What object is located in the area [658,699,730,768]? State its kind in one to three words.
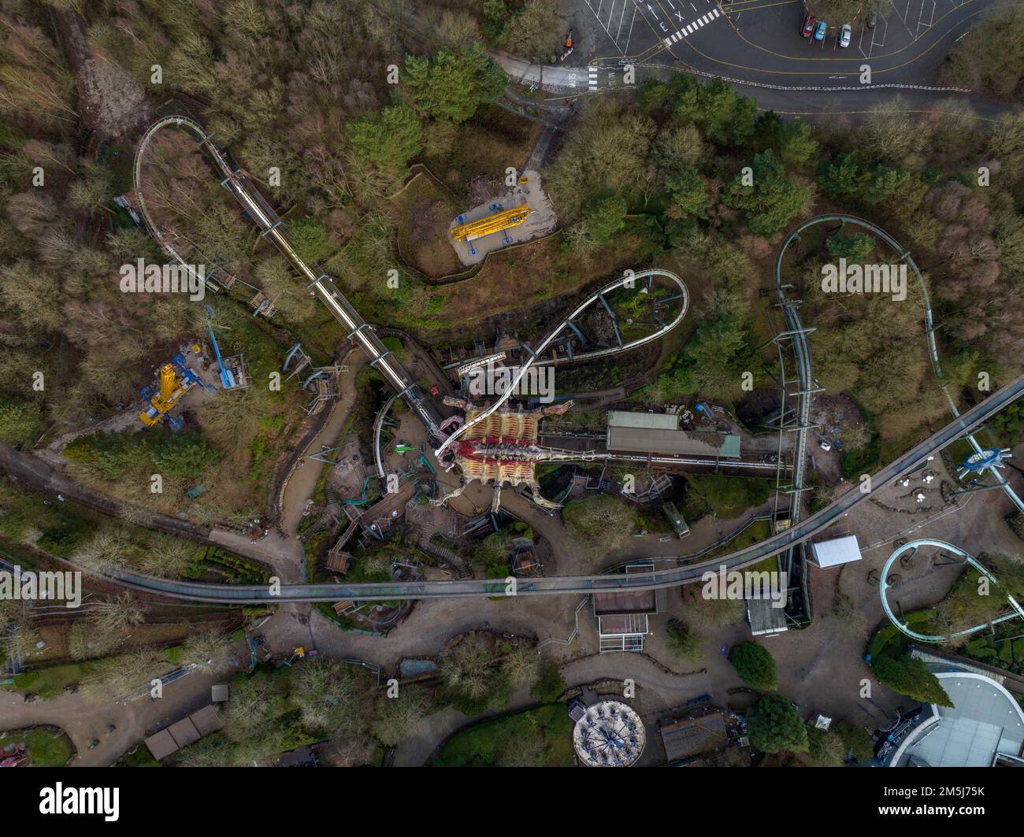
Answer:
building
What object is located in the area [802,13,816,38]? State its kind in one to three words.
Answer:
car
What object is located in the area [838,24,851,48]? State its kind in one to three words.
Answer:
vehicle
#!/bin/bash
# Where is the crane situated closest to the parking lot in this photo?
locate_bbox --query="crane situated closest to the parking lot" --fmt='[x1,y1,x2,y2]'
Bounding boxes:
[451,202,531,257]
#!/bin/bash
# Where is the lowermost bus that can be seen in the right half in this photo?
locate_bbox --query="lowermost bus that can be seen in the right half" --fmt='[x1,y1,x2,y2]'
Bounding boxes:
[662,501,692,540]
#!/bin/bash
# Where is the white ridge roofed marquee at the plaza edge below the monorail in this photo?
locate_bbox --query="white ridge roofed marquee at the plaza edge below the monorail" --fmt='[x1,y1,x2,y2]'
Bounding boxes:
[809,532,862,568]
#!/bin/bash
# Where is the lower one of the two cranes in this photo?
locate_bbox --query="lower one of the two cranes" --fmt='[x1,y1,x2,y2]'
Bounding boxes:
[136,354,212,428]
